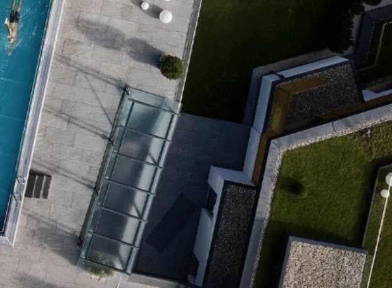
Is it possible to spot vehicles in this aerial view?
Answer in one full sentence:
No, there is no vehicle in the image.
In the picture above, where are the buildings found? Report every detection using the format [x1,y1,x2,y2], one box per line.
[190,46,392,288]
[75,84,184,277]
